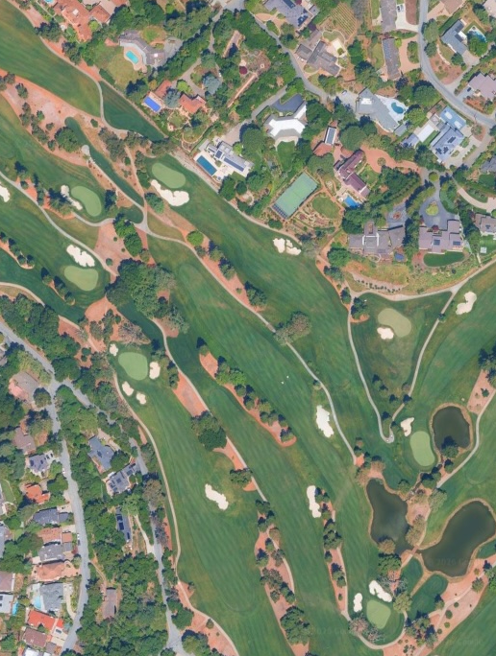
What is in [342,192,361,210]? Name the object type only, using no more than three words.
swimming pool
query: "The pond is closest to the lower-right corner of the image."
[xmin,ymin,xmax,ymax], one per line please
[419,499,496,578]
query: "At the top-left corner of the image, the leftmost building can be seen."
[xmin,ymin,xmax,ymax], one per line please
[49,0,113,43]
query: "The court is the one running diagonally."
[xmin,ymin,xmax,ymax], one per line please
[273,173,318,217]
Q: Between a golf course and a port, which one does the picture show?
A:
golf course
